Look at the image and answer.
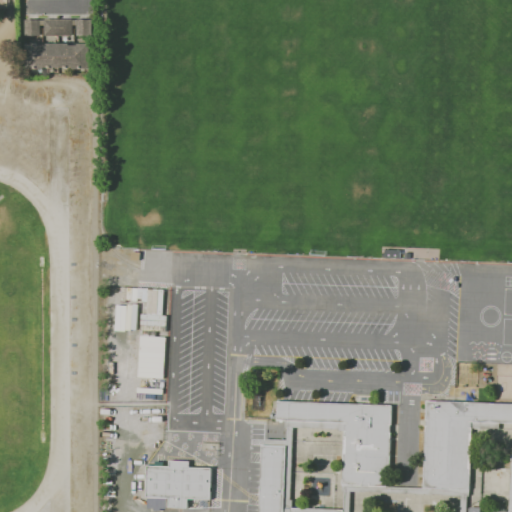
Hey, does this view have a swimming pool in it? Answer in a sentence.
No, there isn't any swimming pool down there.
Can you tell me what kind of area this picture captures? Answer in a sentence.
This image shows a sports ground.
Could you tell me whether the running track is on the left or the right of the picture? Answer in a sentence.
The running track is on the left side of the image.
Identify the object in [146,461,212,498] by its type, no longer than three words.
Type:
building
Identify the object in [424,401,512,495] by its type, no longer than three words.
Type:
building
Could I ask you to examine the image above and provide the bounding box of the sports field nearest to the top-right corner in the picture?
[104,0,512,264]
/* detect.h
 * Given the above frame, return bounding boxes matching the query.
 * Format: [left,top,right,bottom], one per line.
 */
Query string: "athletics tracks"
[0,162,70,512]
